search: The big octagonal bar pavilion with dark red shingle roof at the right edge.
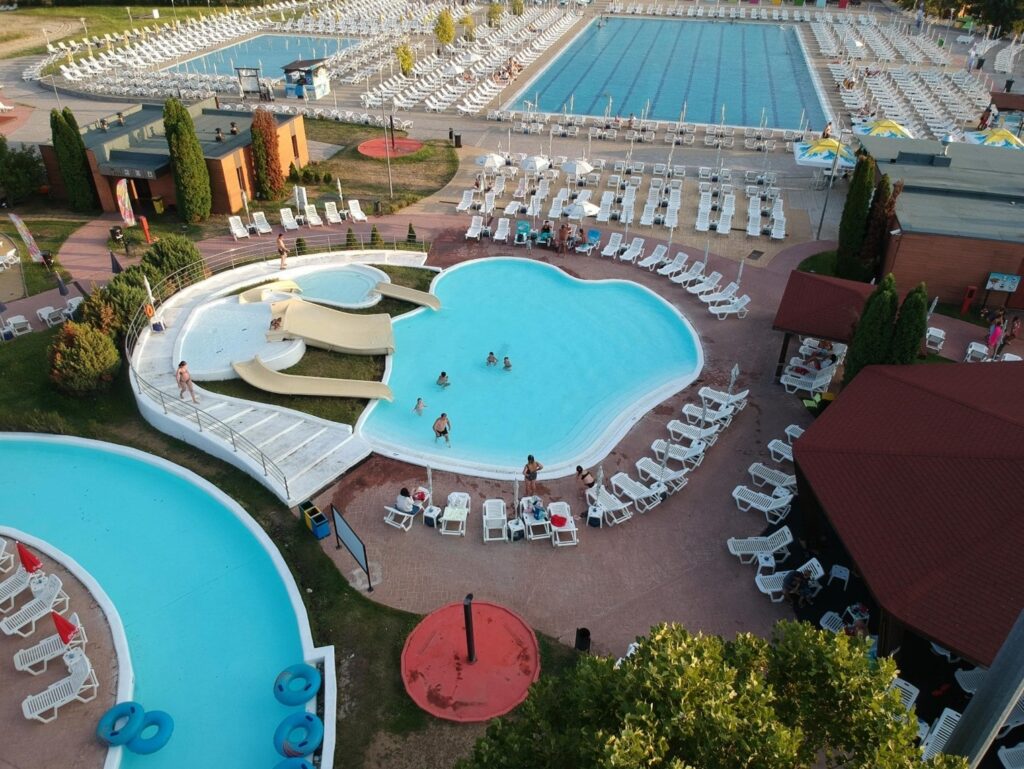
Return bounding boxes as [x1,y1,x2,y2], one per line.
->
[794,374,1024,691]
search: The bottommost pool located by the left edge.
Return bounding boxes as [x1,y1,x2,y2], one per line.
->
[0,438,306,769]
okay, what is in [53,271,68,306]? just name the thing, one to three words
umbrella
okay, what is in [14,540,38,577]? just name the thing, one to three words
umbrella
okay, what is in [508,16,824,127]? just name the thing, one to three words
swimming pool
